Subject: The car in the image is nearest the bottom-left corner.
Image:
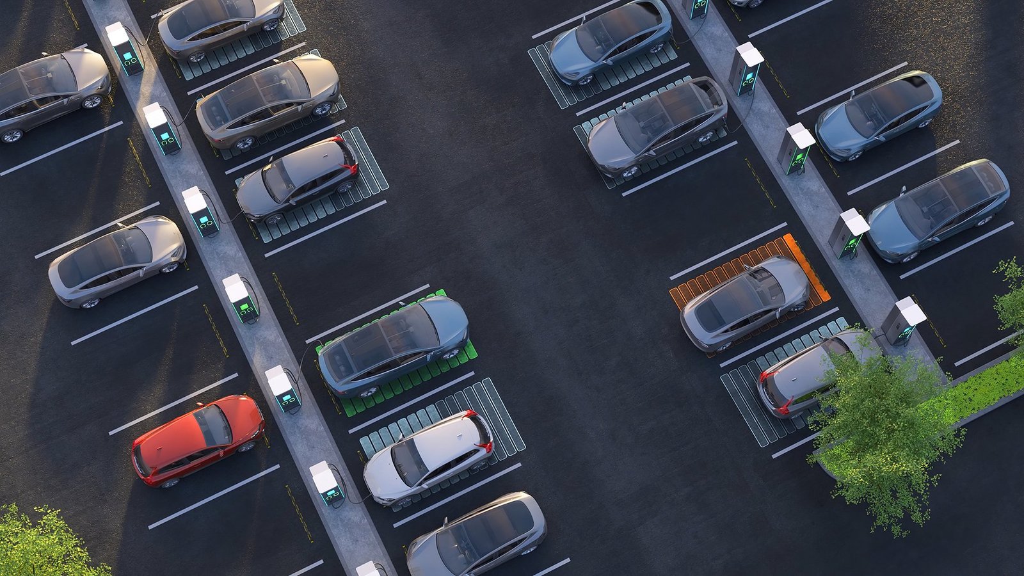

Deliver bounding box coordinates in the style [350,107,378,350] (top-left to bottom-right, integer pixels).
[127,393,266,489]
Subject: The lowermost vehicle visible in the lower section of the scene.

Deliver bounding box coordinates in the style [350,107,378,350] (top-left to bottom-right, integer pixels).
[401,487,555,576]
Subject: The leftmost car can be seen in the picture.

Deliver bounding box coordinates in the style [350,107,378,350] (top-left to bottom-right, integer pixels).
[0,51,111,142]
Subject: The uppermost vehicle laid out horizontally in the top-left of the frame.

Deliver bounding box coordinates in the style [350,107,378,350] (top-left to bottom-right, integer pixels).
[151,0,290,62]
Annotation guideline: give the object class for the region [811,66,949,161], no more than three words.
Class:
car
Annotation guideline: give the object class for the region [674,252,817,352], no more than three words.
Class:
car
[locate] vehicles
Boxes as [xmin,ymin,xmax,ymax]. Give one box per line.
[42,213,191,309]
[544,0,679,86]
[401,487,555,576]
[726,0,761,8]
[0,51,111,142]
[868,163,1008,262]
[127,393,266,489]
[362,408,498,507]
[151,0,290,62]
[321,297,470,396]
[588,81,727,177]
[200,57,341,148]
[236,134,364,225]
[811,66,949,161]
[674,252,817,352]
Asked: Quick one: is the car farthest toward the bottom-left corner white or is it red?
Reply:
red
